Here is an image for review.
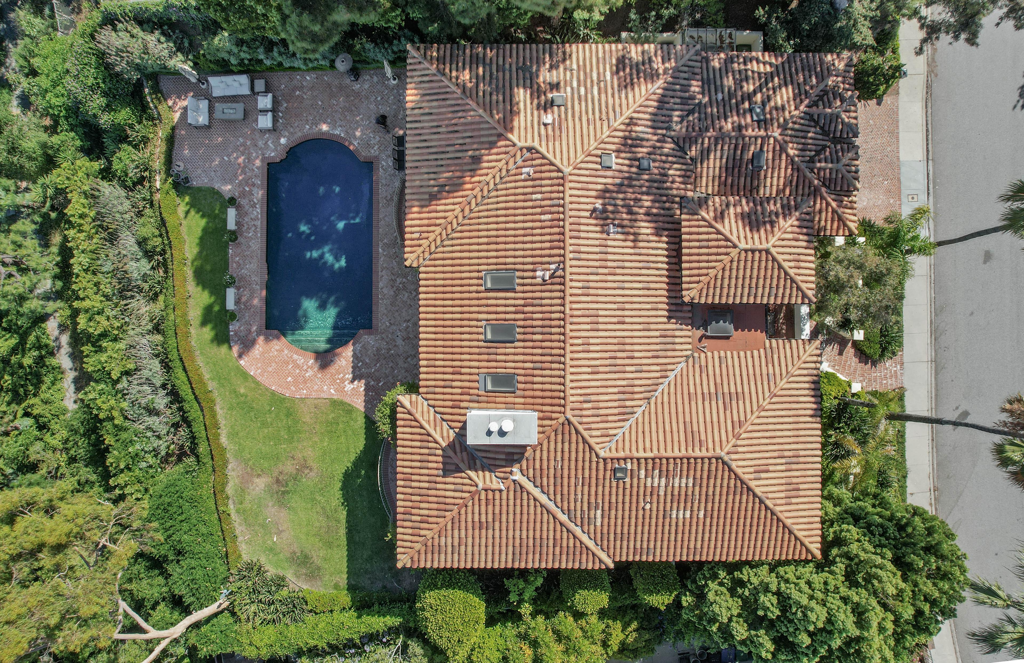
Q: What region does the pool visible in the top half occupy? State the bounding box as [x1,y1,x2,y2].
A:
[260,132,379,359]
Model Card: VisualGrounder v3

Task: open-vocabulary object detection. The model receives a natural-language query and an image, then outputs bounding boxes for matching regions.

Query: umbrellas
[176,63,209,90]
[383,57,400,86]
